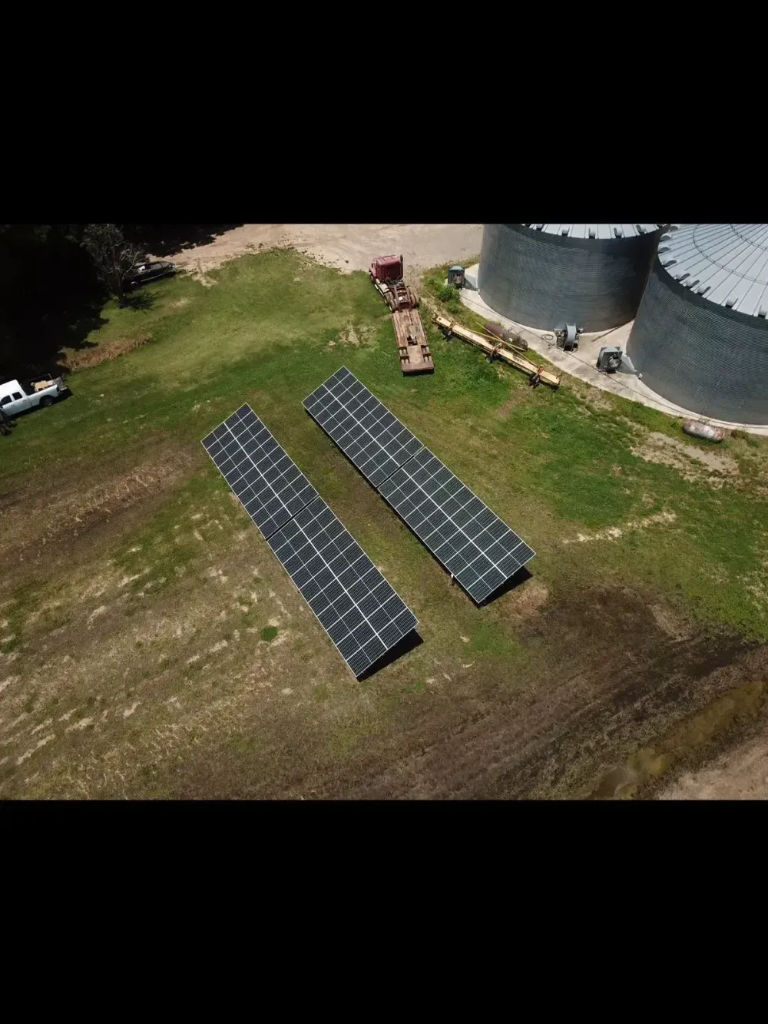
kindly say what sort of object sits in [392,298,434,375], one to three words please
trailer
